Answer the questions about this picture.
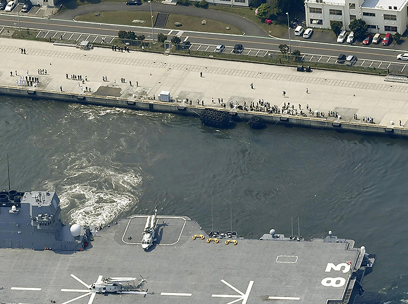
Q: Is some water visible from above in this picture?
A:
Yes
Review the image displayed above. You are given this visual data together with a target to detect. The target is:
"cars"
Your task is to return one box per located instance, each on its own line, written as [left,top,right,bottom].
[180,42,191,50]
[302,27,314,39]
[20,3,33,12]
[381,32,393,45]
[293,23,306,36]
[232,45,244,53]
[336,31,348,42]
[344,30,357,43]
[397,53,408,60]
[344,56,357,66]
[372,32,382,43]
[361,34,373,45]
[214,44,227,53]
[335,53,348,64]
[4,2,16,10]
[0,0,9,9]
[126,0,143,5]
